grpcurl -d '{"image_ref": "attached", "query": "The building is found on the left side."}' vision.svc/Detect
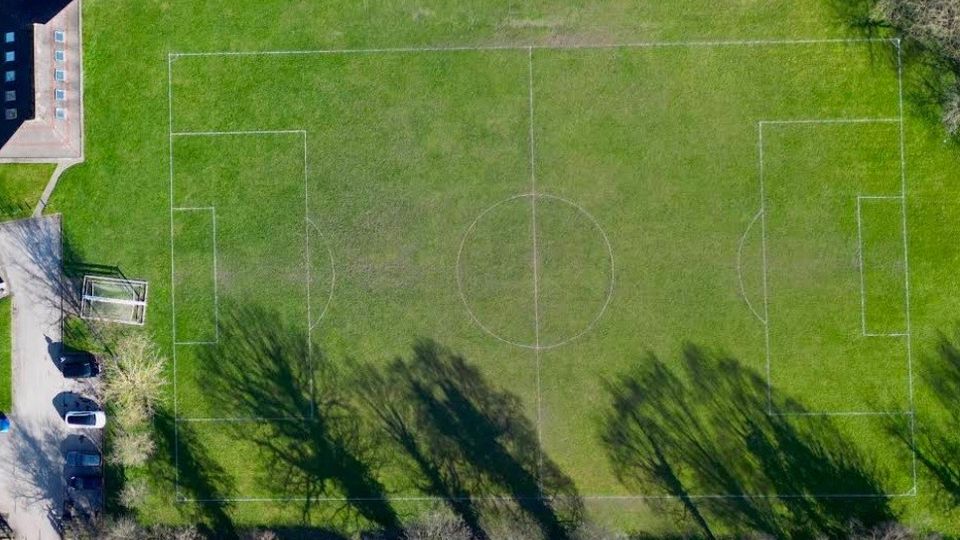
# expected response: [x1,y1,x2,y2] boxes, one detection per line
[0,0,82,158]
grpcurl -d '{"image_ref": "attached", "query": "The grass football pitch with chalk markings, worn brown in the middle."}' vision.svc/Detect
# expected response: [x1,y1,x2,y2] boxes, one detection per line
[166,35,919,505]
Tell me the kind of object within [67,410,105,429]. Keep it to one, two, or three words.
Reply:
car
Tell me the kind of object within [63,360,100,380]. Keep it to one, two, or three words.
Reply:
car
